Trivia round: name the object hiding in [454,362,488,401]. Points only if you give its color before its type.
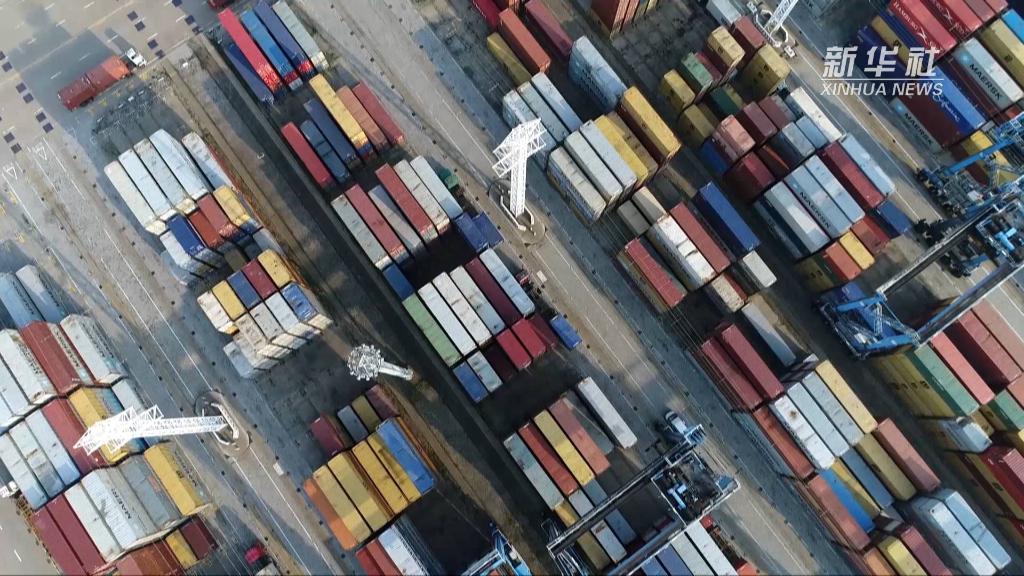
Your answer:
blue shipping container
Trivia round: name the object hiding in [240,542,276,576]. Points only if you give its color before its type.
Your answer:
red truck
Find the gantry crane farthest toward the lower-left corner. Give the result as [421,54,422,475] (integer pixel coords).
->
[447,514,534,576]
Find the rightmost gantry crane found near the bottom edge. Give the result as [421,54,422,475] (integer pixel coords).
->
[537,422,752,576]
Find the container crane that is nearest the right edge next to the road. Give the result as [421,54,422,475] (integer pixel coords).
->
[924,93,1024,221]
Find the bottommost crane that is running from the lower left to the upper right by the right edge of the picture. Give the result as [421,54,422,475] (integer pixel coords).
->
[819,179,1024,359]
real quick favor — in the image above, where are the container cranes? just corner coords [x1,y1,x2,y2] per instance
[924,93,1024,221]
[819,179,1024,359]
[537,422,752,576]
[447,514,534,576]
